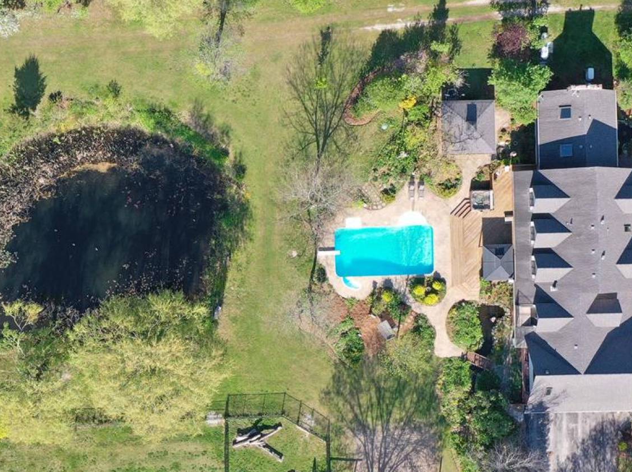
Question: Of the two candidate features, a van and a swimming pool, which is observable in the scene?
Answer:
swimming pool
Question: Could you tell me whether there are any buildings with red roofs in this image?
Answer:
No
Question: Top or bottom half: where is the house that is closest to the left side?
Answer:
top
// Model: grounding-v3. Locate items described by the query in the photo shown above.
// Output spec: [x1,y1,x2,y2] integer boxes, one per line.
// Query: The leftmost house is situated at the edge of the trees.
[441,99,496,155]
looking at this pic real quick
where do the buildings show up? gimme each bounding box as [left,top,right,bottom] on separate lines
[441,99,496,155]
[509,83,632,416]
